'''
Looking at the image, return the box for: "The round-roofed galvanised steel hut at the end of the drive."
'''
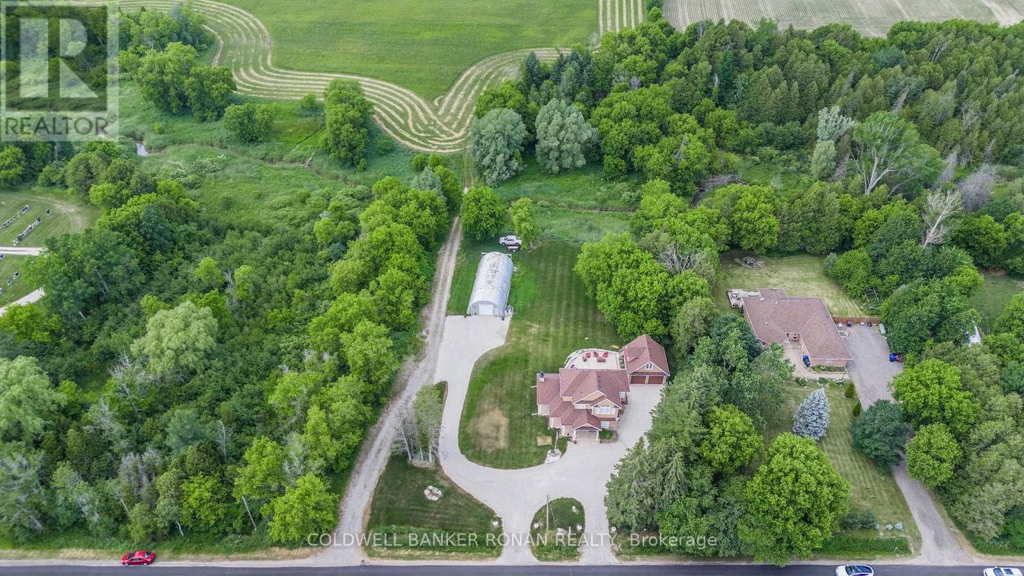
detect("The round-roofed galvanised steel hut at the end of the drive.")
[466,251,514,315]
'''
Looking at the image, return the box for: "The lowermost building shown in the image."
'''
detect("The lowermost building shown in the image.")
[531,366,630,445]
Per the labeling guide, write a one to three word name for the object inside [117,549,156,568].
car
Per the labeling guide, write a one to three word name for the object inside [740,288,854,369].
house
